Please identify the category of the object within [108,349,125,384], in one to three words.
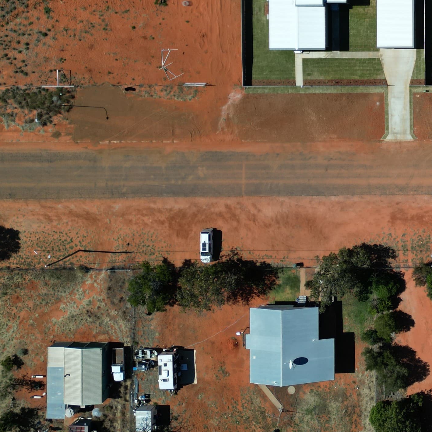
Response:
vehicle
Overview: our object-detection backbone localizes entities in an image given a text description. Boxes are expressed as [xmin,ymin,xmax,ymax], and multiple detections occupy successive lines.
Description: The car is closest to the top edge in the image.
[198,229,214,263]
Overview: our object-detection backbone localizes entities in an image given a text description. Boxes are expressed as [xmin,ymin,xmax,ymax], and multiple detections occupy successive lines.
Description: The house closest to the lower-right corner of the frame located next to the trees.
[246,296,336,387]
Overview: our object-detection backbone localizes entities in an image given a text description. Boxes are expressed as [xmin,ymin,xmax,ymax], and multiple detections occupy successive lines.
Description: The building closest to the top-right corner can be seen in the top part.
[377,0,415,48]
